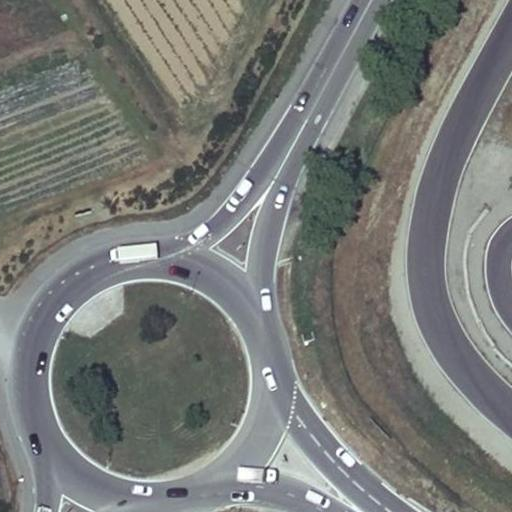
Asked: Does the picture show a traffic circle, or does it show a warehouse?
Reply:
traffic circle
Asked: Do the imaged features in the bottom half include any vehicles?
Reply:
Yes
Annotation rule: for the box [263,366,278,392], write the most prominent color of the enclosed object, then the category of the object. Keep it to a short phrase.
white car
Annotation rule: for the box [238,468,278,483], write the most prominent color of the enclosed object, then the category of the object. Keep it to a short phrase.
white vehicle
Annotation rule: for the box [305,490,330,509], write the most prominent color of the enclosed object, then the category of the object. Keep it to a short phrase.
white vehicle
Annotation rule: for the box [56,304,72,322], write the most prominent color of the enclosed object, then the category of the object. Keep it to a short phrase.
white car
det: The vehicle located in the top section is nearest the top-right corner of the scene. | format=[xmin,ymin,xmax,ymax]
[342,4,357,26]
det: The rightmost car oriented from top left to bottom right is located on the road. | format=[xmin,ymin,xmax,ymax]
[334,448,354,468]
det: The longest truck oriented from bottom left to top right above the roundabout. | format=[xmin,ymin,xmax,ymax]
[228,178,253,213]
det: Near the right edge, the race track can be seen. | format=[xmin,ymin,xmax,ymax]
[406,0,512,438]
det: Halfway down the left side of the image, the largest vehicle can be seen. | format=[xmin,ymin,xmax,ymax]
[110,243,159,264]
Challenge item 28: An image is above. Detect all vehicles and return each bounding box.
[169,266,190,279]
[36,352,47,376]
[274,186,288,210]
[30,433,41,455]
[334,448,354,468]
[232,491,254,502]
[238,468,278,483]
[305,490,330,509]
[167,487,188,498]
[56,304,72,322]
[263,366,278,392]
[132,486,152,496]
[342,4,357,26]
[295,91,310,112]
[228,178,253,213]
[110,243,159,264]
[188,224,208,244]
[260,288,272,312]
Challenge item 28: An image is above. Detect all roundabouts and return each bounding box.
[25,254,277,506]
